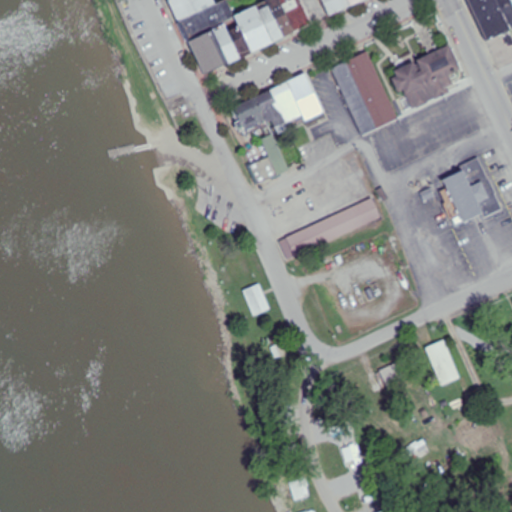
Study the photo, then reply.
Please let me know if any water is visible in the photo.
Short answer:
Yes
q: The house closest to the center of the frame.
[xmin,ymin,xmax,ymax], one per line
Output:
[242,283,270,316]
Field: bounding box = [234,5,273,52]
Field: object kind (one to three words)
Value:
house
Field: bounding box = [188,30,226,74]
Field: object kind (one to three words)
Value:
building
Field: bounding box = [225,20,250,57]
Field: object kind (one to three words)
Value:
building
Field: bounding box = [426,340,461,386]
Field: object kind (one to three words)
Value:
house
